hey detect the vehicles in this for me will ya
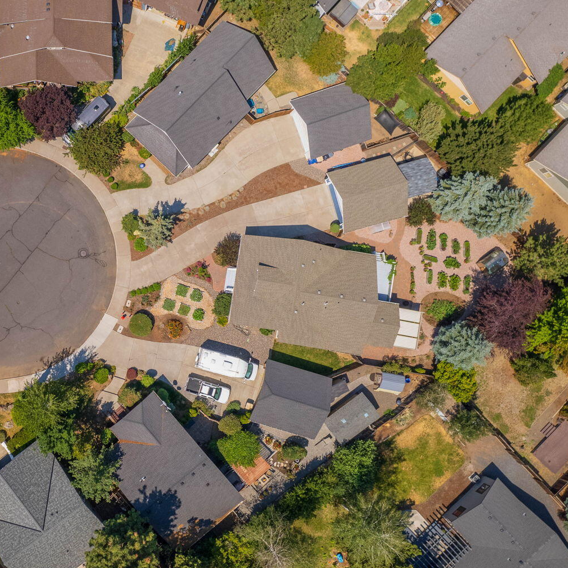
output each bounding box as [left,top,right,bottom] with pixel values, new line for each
[183,375,233,403]
[68,89,113,144]
[192,344,256,376]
